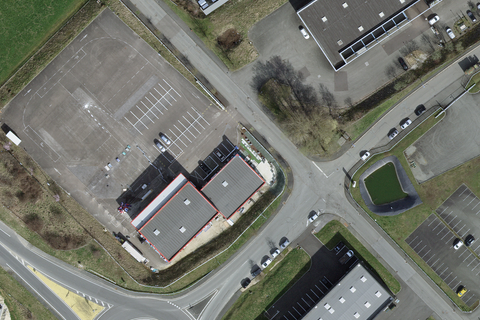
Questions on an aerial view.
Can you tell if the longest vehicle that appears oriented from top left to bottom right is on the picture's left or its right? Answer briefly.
left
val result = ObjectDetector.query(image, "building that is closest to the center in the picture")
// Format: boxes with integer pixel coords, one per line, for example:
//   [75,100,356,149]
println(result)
[202,154,266,218]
